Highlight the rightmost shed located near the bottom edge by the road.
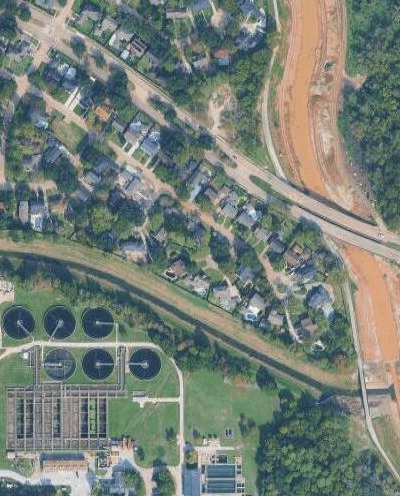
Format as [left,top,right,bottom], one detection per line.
[183,468,200,496]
